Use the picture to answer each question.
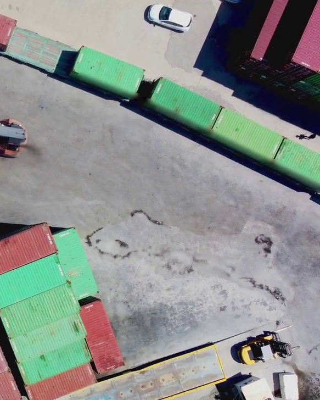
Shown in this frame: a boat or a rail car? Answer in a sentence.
I can see a rail car in this picture.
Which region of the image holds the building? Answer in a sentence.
The building is in the bottom right part of the image.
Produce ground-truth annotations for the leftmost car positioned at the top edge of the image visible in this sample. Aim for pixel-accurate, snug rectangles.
[148,4,197,34]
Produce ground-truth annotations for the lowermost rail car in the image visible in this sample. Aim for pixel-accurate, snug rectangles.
[137,79,320,193]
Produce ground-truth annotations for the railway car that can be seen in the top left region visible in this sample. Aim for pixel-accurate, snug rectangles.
[0,25,143,102]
